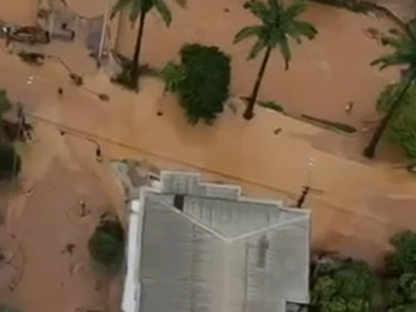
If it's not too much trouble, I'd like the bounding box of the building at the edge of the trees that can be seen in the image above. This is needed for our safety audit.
[123,169,314,312]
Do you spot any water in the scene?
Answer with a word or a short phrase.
Yes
